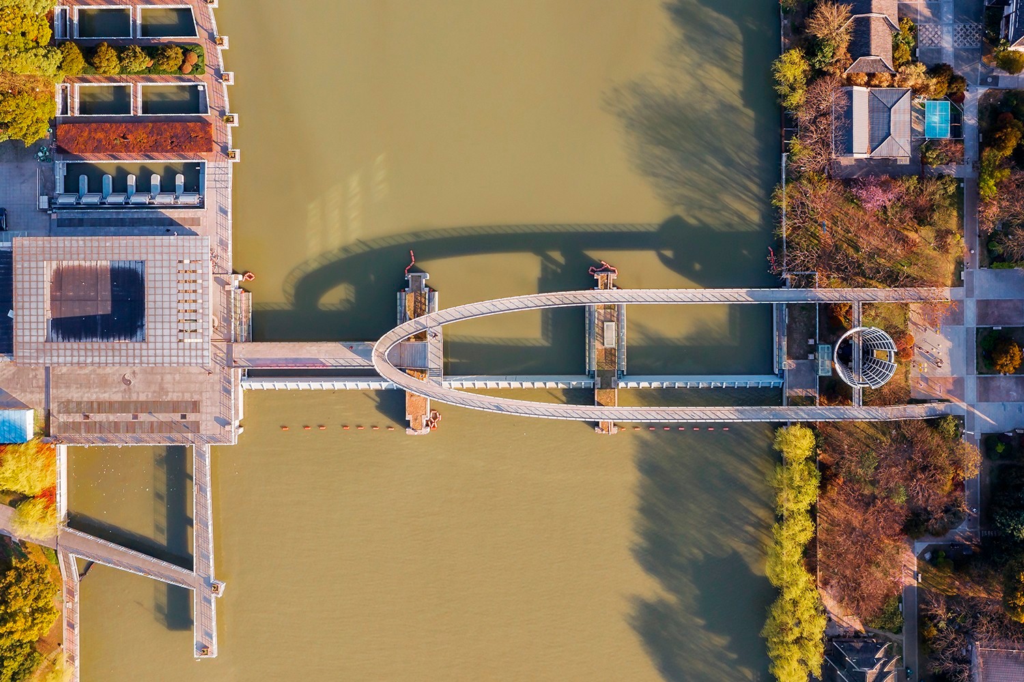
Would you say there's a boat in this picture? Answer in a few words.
No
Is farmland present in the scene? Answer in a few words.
No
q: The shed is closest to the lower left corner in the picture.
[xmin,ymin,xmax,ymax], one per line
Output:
[0,409,34,443]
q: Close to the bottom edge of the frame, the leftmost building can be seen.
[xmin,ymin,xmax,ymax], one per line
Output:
[822,643,903,682]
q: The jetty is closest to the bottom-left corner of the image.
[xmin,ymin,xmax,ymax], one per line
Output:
[192,445,222,659]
